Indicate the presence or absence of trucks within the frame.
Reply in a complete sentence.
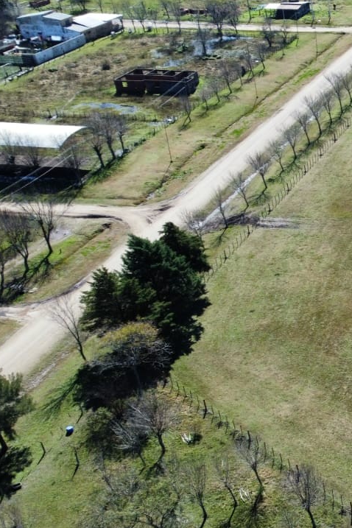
No, the scene contains no truck.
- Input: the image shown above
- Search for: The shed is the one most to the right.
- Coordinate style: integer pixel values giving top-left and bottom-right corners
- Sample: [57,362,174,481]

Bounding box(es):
[262,0,313,18]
